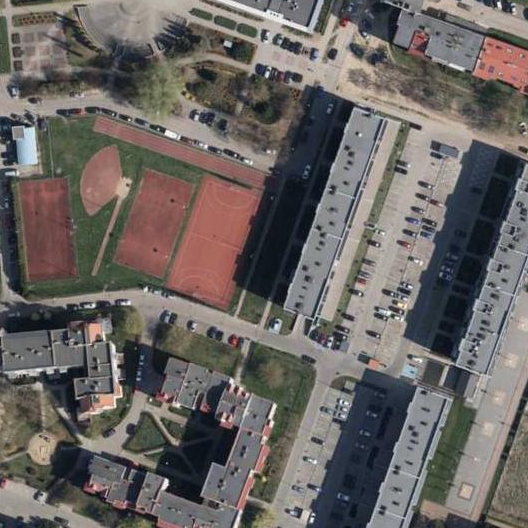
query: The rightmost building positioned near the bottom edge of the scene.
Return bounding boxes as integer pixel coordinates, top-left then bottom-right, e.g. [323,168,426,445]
[365,387,457,528]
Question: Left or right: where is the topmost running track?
left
